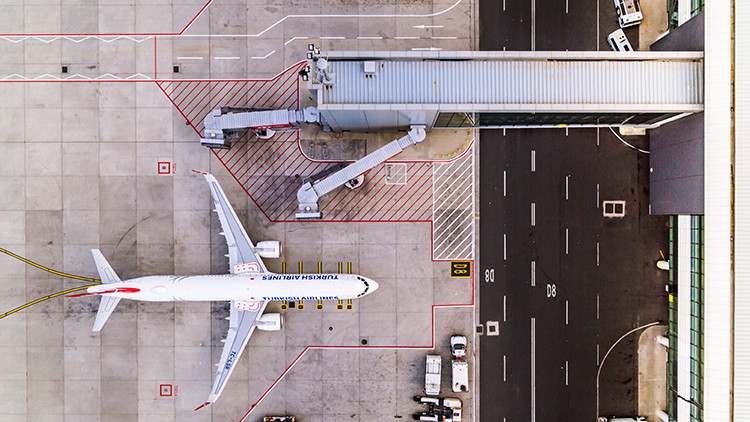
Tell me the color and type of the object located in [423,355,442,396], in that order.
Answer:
white vehicle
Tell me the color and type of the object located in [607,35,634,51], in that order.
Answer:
white vehicle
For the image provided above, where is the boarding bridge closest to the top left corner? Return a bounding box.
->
[201,103,328,150]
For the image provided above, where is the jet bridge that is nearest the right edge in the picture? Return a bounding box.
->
[297,123,426,221]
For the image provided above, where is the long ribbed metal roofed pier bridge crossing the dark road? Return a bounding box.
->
[308,51,704,132]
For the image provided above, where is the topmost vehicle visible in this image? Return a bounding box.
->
[607,0,639,33]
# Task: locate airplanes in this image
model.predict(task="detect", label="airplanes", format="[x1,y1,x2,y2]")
[64,170,379,413]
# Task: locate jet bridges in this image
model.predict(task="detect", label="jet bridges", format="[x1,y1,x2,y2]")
[297,123,426,221]
[201,103,328,150]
